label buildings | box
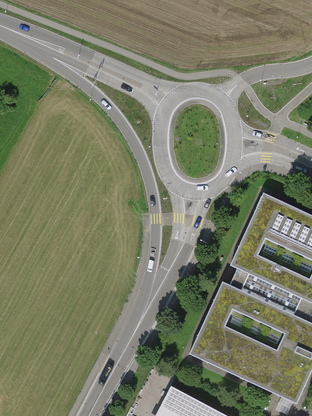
[155,386,228,416]
[190,282,312,402]
[228,194,312,303]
